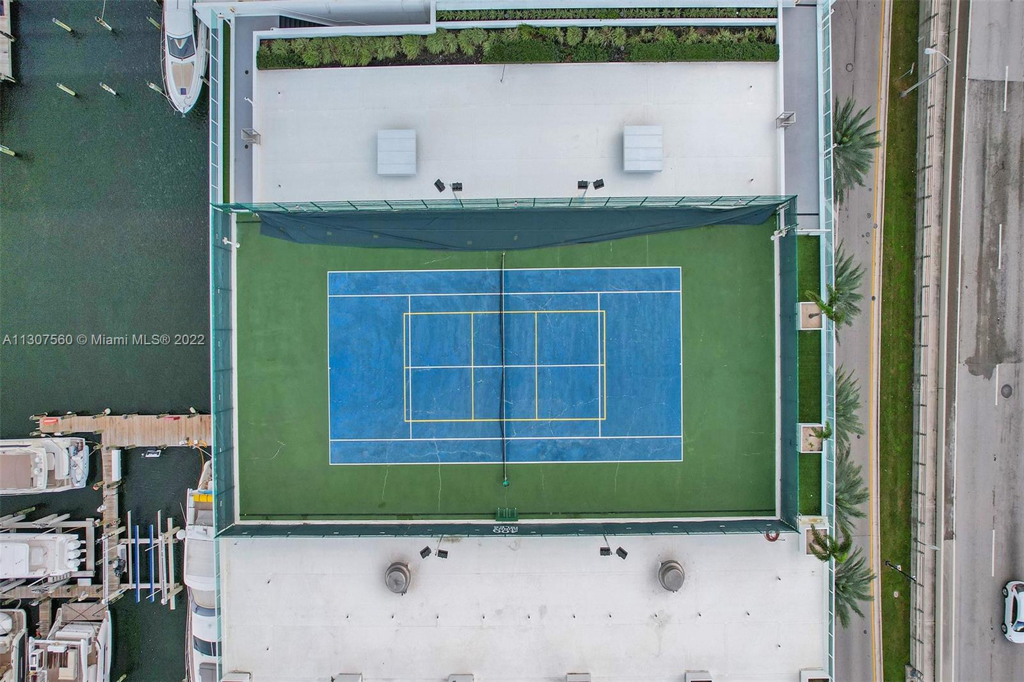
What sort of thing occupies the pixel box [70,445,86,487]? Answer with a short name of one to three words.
boat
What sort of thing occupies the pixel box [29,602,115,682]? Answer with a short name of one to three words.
boat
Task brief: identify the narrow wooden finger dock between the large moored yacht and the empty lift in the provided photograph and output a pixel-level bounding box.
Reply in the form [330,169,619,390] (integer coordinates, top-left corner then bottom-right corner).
[102,446,121,596]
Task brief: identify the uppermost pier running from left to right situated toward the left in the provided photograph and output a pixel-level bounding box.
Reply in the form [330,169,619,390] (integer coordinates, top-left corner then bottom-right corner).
[40,414,212,446]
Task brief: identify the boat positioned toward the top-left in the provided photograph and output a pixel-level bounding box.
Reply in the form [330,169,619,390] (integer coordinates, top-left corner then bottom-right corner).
[160,0,209,118]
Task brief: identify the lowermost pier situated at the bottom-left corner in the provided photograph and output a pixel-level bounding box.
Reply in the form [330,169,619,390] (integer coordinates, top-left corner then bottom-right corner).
[39,598,53,638]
